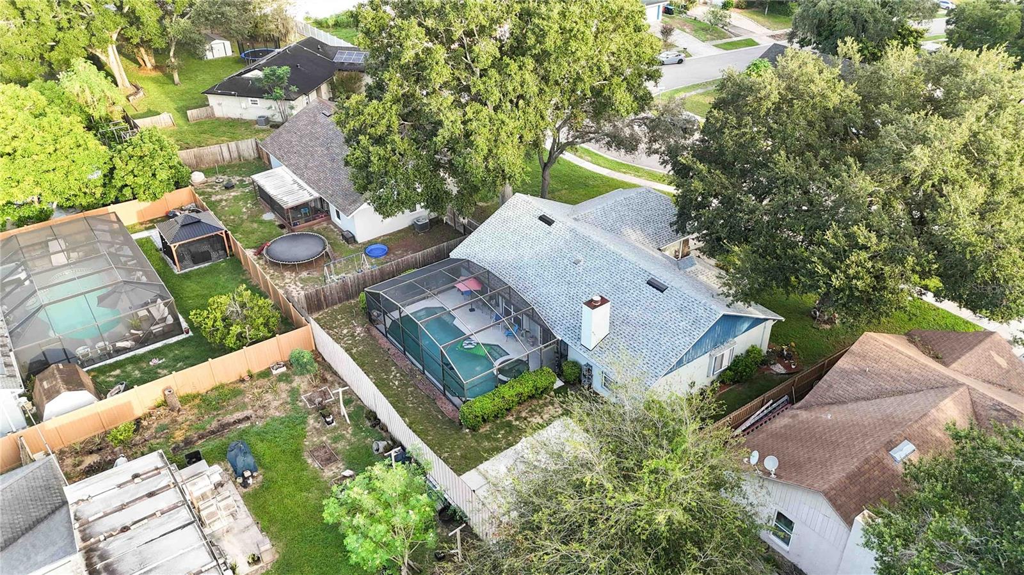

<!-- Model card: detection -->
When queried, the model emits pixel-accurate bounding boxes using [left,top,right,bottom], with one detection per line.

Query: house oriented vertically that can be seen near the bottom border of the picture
[0,360,97,575]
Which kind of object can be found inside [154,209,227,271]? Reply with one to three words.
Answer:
gazebo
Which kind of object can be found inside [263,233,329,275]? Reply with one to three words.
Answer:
trampoline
